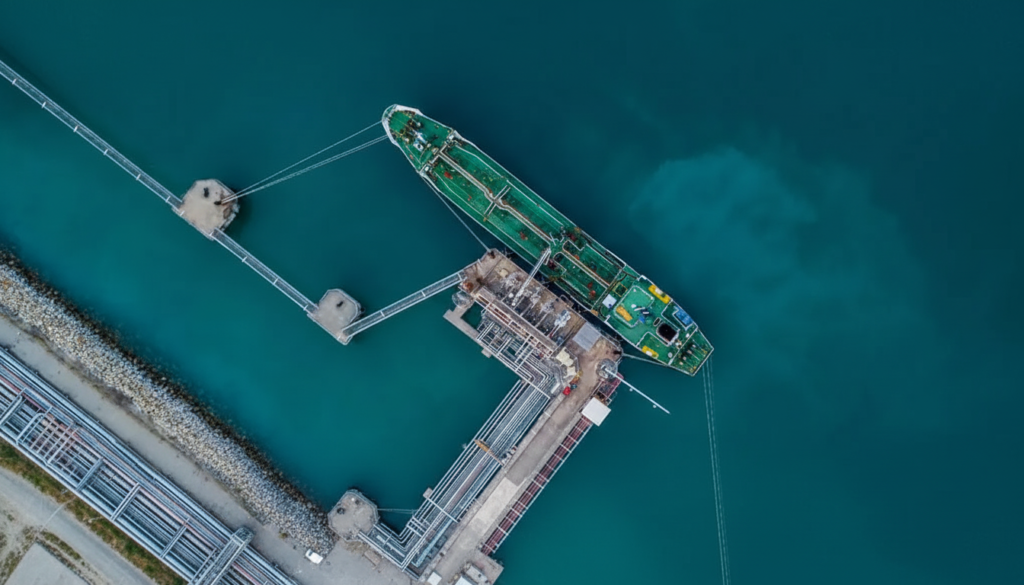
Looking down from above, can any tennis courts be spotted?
No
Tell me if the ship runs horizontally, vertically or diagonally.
diagonally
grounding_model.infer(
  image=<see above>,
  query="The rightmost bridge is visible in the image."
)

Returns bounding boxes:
[406,393,585,585]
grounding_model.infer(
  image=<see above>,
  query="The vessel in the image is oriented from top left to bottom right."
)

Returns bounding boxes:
[376,105,714,375]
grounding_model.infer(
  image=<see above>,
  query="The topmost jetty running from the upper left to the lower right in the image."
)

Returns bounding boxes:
[445,306,521,381]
